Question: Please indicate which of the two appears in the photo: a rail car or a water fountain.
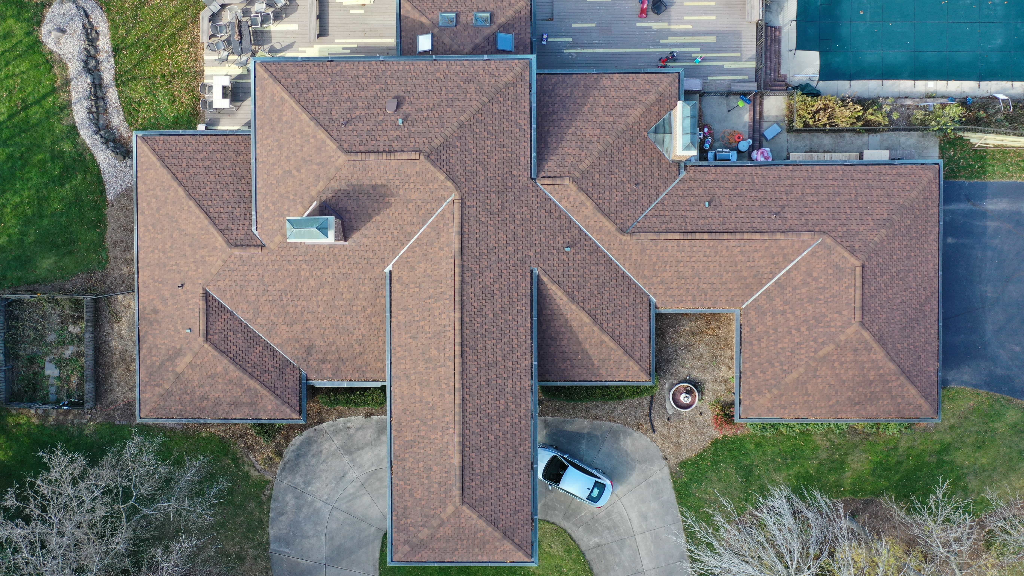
water fountain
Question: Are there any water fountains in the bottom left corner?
No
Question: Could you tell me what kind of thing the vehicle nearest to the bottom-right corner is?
automobile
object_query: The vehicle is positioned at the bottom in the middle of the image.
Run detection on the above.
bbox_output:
[537,443,615,507]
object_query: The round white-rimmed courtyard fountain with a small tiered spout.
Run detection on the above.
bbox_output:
[669,383,699,412]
